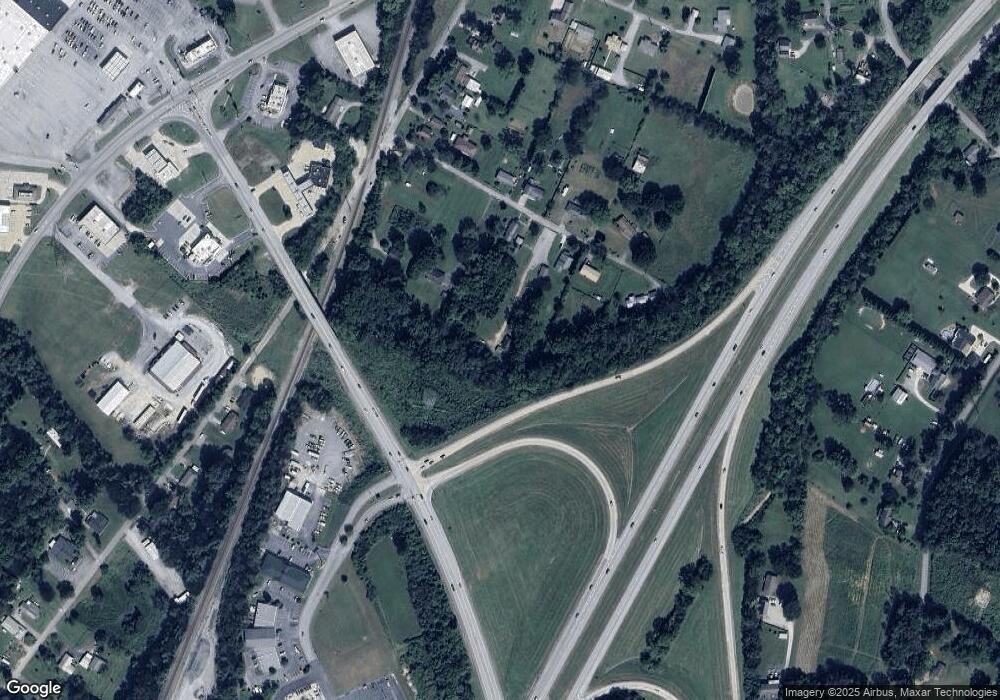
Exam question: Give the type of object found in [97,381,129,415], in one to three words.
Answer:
barn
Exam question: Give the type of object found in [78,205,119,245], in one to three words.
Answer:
building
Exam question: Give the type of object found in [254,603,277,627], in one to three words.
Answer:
building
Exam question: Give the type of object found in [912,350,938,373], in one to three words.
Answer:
house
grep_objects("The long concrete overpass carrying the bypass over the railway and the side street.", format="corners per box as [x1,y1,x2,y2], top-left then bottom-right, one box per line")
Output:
[279,266,334,339]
